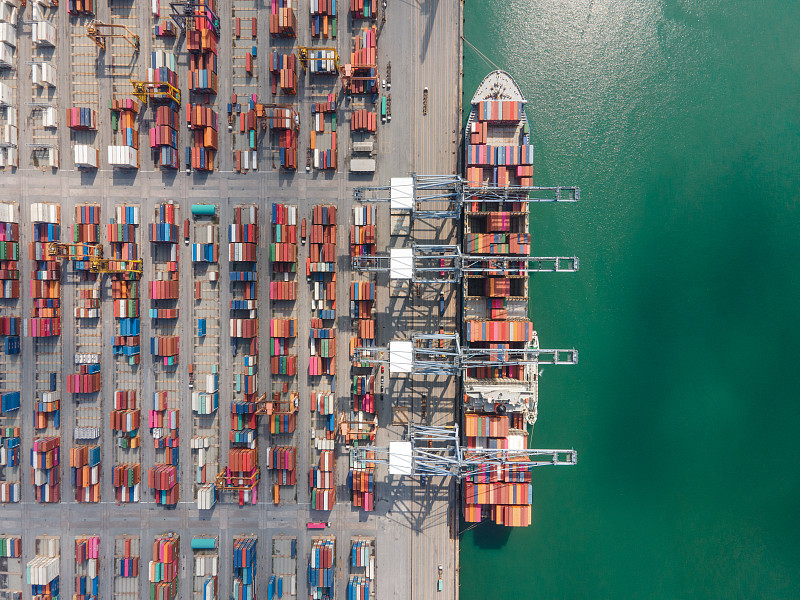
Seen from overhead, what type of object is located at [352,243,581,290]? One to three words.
container crane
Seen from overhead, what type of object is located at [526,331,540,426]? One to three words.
ship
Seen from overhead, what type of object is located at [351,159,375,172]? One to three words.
building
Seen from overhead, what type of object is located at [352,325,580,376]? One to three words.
container crane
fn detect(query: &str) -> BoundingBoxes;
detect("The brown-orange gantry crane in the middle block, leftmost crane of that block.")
[41,242,102,262]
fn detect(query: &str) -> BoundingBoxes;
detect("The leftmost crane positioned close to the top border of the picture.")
[82,22,141,52]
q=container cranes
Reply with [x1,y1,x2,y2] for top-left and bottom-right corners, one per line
[125,77,182,105]
[338,412,380,435]
[82,22,141,52]
[170,2,222,34]
[338,64,381,92]
[255,104,302,130]
[255,393,301,416]
[41,242,102,262]
[84,257,142,276]
[352,412,580,475]
[209,465,262,491]
[352,325,580,376]
[294,46,341,76]
[352,243,581,290]
[353,172,582,228]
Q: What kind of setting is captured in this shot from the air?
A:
port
